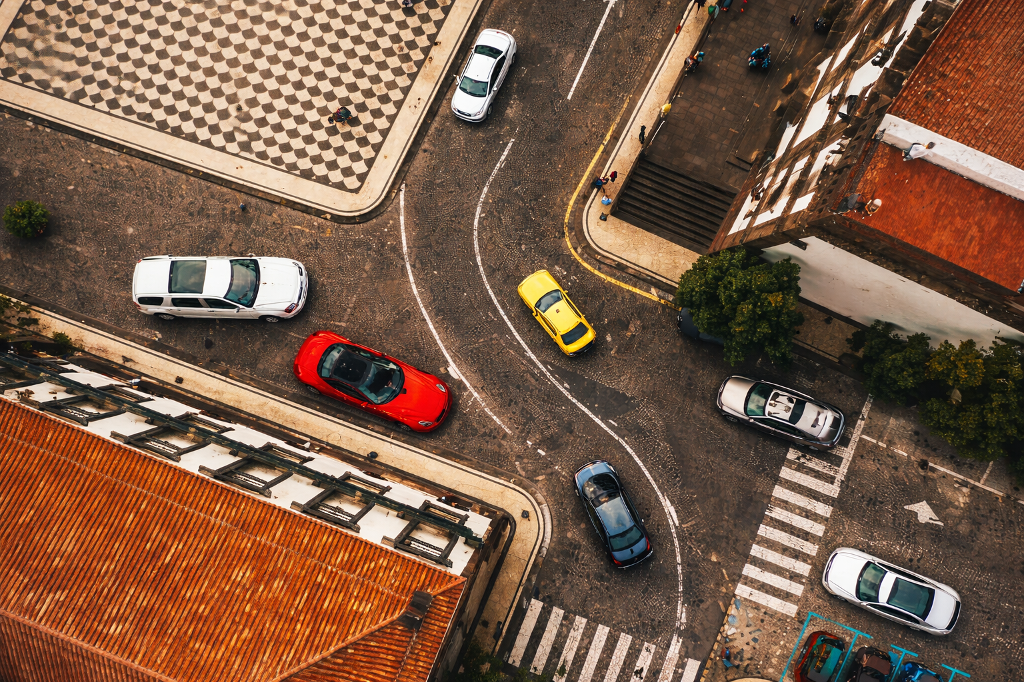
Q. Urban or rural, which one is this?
urban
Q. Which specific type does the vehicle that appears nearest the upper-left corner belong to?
automobile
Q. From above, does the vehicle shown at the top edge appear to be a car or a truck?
car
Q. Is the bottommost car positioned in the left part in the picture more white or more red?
red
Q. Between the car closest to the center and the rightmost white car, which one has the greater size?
the rightmost white car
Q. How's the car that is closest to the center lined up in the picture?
at an angle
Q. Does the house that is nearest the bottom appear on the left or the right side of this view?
left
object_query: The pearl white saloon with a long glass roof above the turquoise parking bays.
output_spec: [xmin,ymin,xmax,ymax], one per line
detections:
[818,544,964,638]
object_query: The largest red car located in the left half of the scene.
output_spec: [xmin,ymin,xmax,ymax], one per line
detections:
[299,332,452,428]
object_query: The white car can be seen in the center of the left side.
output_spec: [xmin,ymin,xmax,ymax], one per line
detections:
[128,252,307,322]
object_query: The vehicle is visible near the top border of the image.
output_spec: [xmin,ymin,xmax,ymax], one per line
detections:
[454,29,517,126]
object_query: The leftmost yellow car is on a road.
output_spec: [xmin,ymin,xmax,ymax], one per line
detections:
[521,271,597,357]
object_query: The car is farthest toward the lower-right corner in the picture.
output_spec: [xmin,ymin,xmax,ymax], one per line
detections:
[885,656,936,682]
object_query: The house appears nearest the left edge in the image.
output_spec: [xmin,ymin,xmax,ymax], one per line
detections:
[0,325,516,682]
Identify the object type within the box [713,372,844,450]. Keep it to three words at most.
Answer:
car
